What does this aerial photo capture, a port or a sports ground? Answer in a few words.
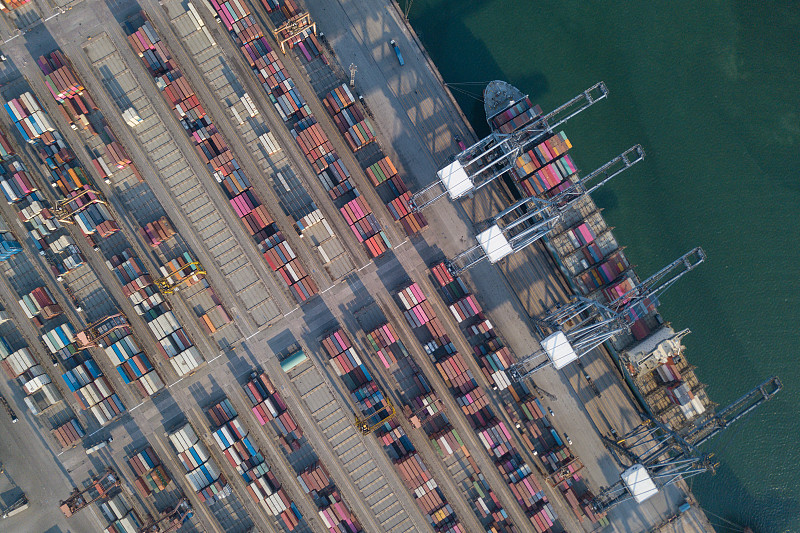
port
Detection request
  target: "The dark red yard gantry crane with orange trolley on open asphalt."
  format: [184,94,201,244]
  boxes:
[56,467,122,520]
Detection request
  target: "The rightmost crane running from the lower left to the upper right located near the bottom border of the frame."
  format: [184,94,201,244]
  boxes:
[591,374,778,513]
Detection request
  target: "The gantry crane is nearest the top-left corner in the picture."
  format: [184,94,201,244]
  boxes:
[52,186,112,226]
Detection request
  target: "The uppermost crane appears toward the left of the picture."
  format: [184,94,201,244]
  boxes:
[273,10,319,55]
